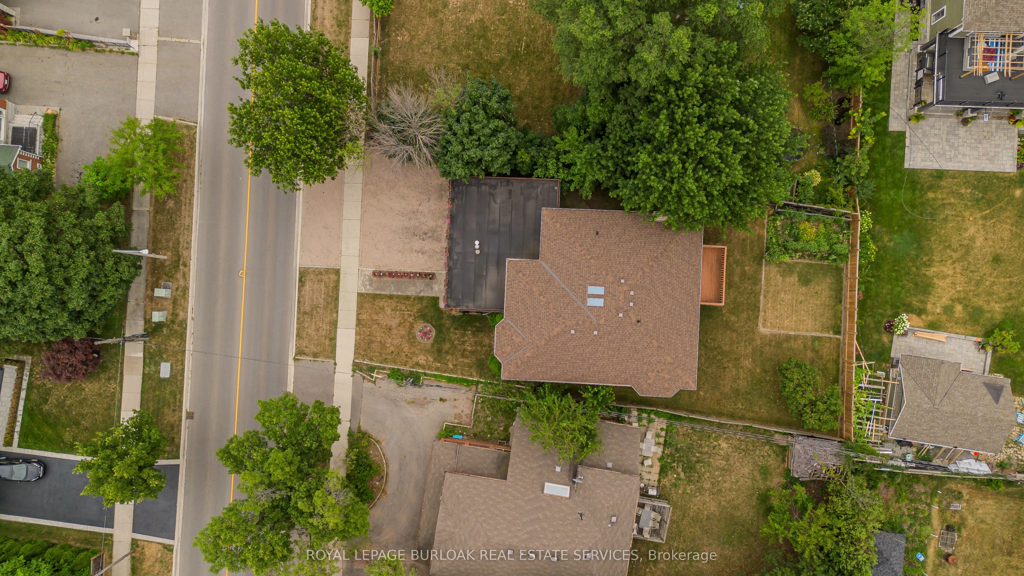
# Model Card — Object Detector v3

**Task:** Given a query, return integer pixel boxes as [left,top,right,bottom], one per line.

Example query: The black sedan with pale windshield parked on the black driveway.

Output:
[0,457,40,487]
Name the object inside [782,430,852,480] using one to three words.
shed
